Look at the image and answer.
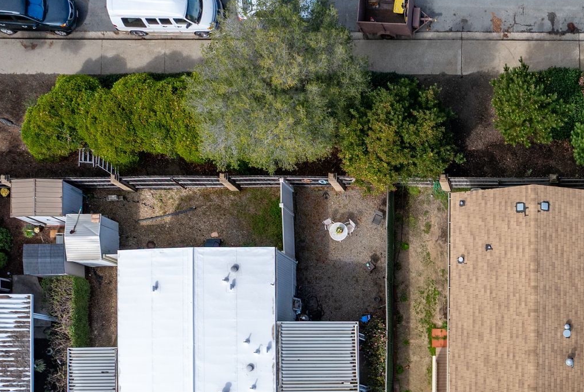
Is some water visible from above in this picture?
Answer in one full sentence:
No, the picture contains no water.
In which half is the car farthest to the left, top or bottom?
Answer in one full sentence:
It is in the top half that the car farthest to the left appears.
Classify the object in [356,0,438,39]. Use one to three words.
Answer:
trailer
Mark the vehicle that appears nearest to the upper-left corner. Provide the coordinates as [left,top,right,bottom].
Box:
[0,0,82,37]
